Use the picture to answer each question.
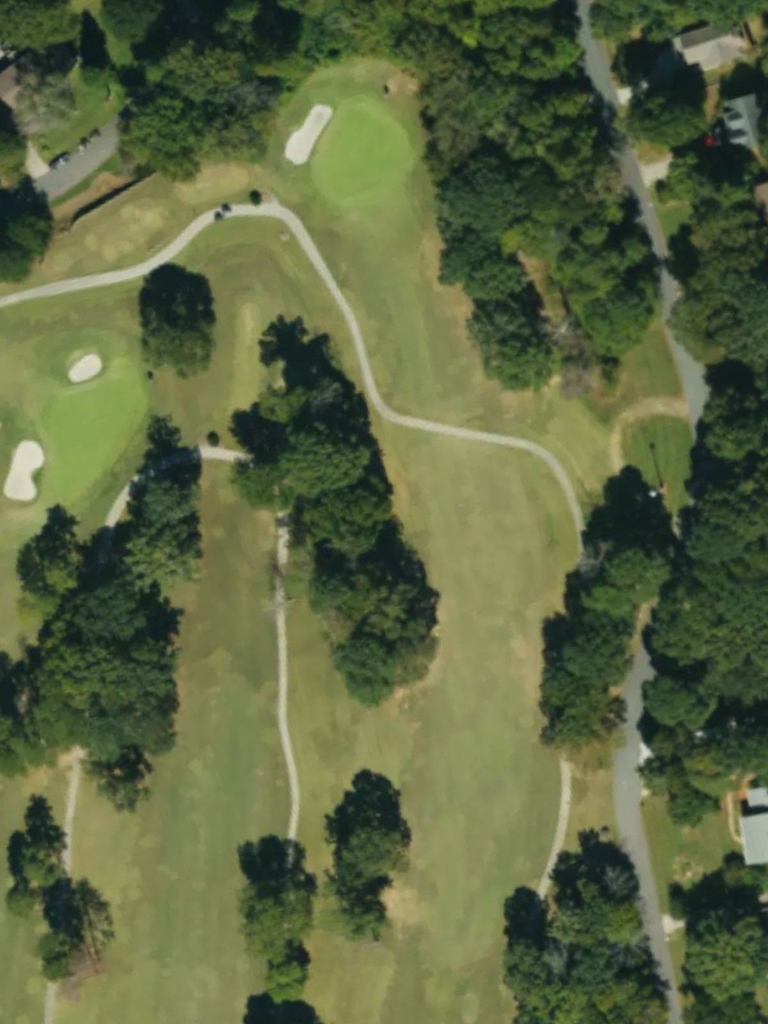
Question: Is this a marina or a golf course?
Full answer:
The picture captures a golf course.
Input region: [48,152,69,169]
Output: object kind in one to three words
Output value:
car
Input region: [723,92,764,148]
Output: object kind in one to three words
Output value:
house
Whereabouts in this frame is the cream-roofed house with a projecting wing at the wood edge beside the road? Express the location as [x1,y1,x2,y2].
[673,27,748,76]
